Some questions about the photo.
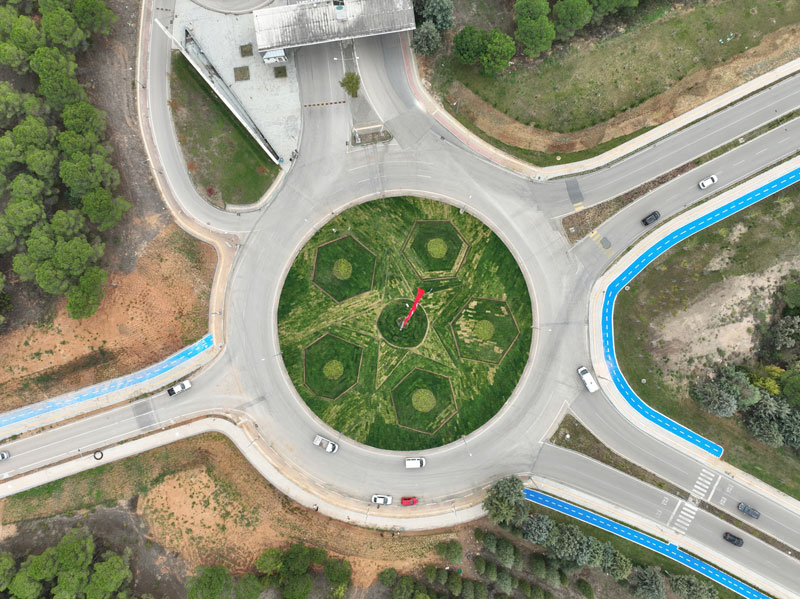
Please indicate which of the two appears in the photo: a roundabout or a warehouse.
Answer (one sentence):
I can see a roundabout in this picture.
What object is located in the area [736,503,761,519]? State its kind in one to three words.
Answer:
vehicle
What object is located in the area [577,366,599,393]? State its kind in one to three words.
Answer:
vehicle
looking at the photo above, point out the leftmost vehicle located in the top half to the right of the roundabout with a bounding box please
[640,210,660,226]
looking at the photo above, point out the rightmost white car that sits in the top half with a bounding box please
[697,175,718,190]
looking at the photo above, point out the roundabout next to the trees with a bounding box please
[221,137,589,506]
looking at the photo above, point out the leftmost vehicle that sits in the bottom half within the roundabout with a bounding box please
[312,433,339,452]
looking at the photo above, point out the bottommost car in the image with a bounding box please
[722,530,743,545]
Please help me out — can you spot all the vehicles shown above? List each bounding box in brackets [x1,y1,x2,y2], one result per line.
[371,494,392,503]
[722,530,743,545]
[577,366,599,393]
[401,495,418,505]
[405,457,425,468]
[736,503,761,519]
[697,175,718,190]
[312,433,339,452]
[166,378,192,396]
[640,210,660,226]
